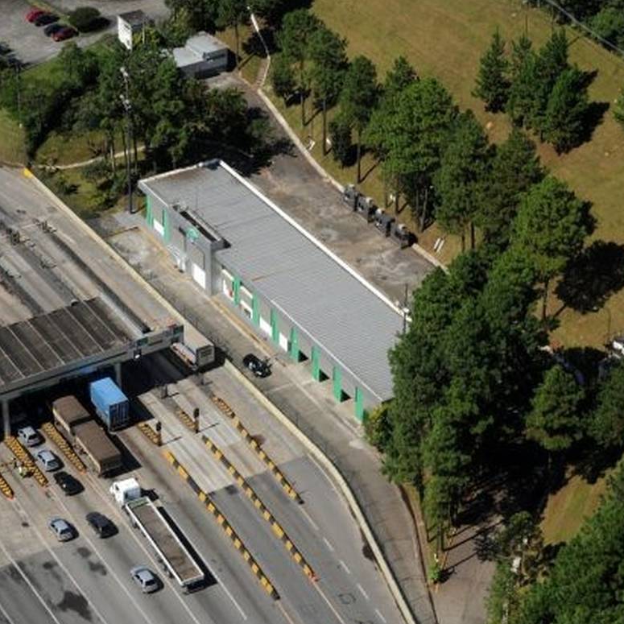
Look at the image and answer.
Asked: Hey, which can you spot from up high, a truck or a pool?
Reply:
truck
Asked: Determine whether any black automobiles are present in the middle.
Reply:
Yes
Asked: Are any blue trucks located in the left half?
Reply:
Yes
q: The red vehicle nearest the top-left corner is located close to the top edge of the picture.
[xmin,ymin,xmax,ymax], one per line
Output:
[22,9,49,24]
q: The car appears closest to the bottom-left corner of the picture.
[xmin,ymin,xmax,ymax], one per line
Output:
[48,518,74,544]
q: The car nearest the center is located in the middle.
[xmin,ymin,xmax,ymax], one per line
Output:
[242,355,270,376]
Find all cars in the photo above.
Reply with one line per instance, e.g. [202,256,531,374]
[40,22,67,37]
[48,27,76,42]
[242,355,270,376]
[128,567,160,597]
[52,472,81,499]
[48,518,74,544]
[31,14,58,29]
[34,452,60,476]
[84,512,116,540]
[15,428,41,451]
[22,9,49,24]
